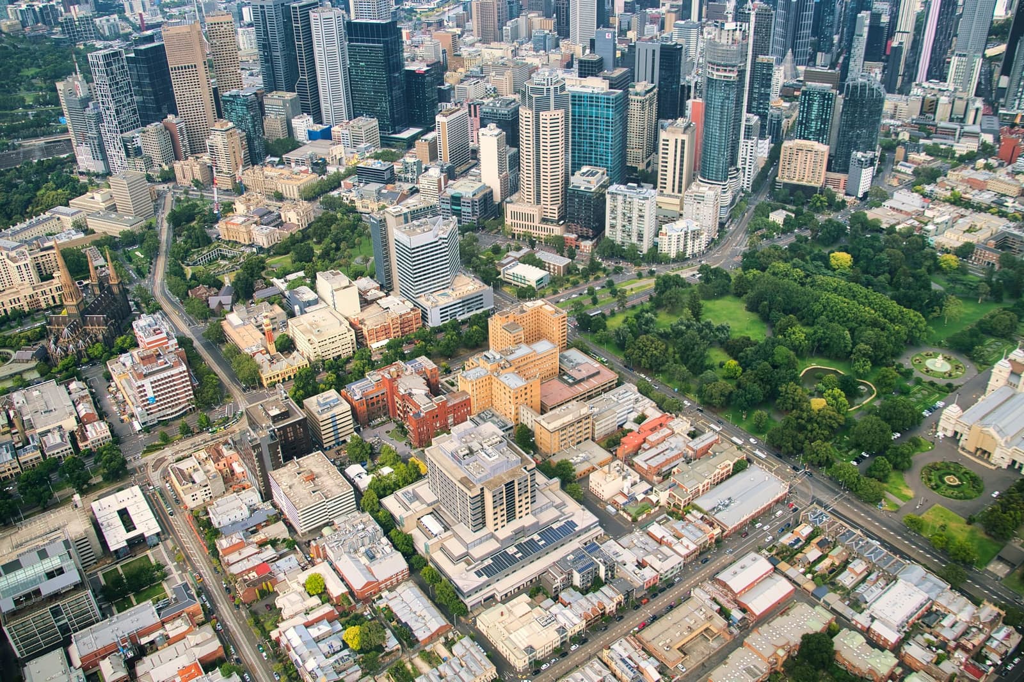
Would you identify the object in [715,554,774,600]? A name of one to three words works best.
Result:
shed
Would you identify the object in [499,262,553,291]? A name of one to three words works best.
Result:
building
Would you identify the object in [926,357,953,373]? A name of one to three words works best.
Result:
fountain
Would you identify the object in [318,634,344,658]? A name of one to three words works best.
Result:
house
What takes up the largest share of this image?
buildings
